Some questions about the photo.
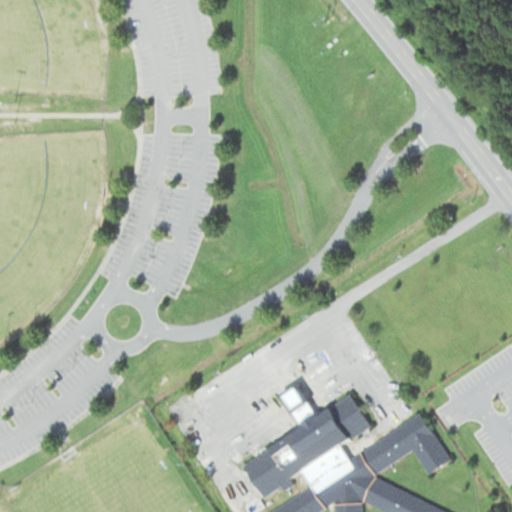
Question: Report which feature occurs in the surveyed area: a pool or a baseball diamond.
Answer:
baseball diamond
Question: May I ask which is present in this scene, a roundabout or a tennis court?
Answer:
roundabout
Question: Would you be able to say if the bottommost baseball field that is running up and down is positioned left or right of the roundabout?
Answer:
to its left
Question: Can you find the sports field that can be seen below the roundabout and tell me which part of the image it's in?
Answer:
bottom left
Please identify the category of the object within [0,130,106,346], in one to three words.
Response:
baseball field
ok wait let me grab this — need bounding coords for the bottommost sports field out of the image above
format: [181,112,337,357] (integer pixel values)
[0,404,225,512]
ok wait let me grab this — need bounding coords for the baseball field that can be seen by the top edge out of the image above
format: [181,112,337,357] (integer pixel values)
[0,0,107,99]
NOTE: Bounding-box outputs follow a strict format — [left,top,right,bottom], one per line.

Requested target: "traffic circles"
[96,295,150,350]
